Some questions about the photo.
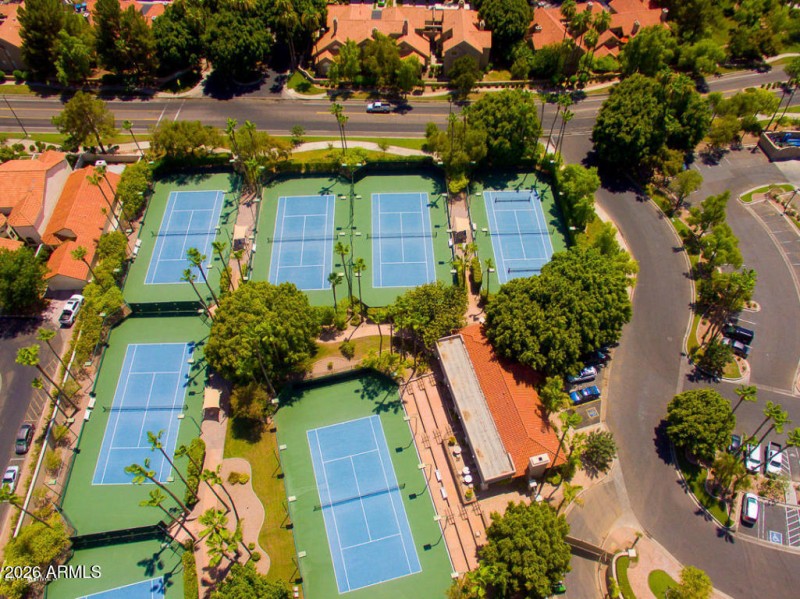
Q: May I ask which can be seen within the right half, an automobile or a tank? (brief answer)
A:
automobile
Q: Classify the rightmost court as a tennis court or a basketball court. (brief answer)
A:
tennis court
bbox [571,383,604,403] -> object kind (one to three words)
car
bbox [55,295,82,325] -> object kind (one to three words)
truck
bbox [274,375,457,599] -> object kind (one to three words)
tennis court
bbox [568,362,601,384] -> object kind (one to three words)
car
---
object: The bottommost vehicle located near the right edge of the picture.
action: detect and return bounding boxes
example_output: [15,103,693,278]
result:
[741,491,763,529]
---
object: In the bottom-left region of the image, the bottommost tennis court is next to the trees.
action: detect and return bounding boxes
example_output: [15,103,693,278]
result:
[46,537,179,599]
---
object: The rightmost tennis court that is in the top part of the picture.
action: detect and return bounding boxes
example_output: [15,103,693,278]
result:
[469,176,584,297]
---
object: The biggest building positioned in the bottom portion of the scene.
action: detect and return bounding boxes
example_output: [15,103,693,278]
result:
[434,320,571,486]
